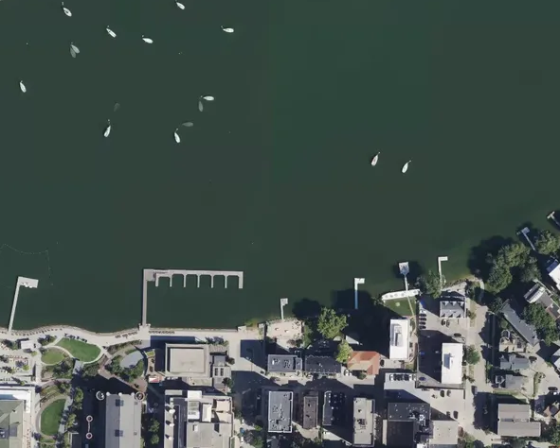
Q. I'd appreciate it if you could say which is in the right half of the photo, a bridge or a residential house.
residential house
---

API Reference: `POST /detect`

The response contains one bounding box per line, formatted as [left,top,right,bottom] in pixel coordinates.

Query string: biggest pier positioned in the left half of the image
[140,269,243,330]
